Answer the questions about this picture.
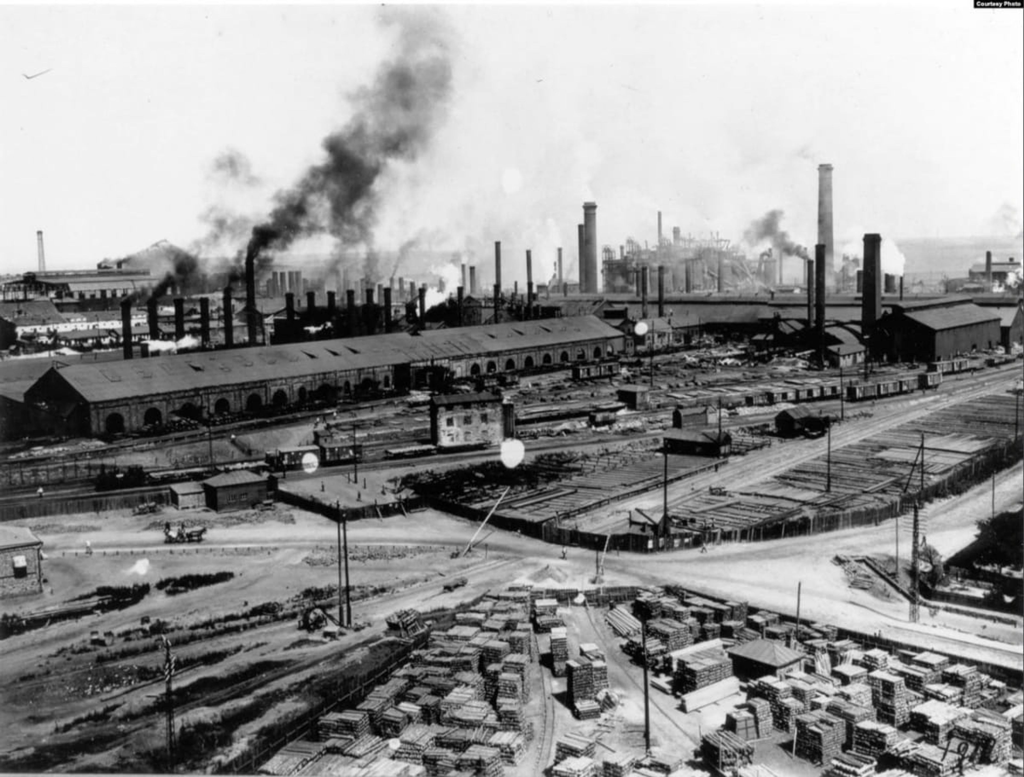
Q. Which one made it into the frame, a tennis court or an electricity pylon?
electricity pylon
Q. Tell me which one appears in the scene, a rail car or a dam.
rail car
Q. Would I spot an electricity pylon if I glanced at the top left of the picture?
No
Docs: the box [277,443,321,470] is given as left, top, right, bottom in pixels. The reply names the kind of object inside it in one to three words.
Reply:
rail car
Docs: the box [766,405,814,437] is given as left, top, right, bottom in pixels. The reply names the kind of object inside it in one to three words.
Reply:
shed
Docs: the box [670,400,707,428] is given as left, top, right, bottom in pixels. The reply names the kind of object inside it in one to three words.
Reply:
house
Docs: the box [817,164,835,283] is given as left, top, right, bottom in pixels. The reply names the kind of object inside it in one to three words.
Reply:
chimney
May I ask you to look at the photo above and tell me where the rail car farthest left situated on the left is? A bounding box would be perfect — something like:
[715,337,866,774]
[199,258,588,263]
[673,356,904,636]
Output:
[93,457,152,489]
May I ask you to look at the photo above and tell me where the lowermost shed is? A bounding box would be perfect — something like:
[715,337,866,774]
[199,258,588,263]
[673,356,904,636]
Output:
[726,641,809,690]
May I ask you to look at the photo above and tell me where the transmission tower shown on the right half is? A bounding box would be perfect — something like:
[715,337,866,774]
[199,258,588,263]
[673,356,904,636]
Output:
[900,501,929,623]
